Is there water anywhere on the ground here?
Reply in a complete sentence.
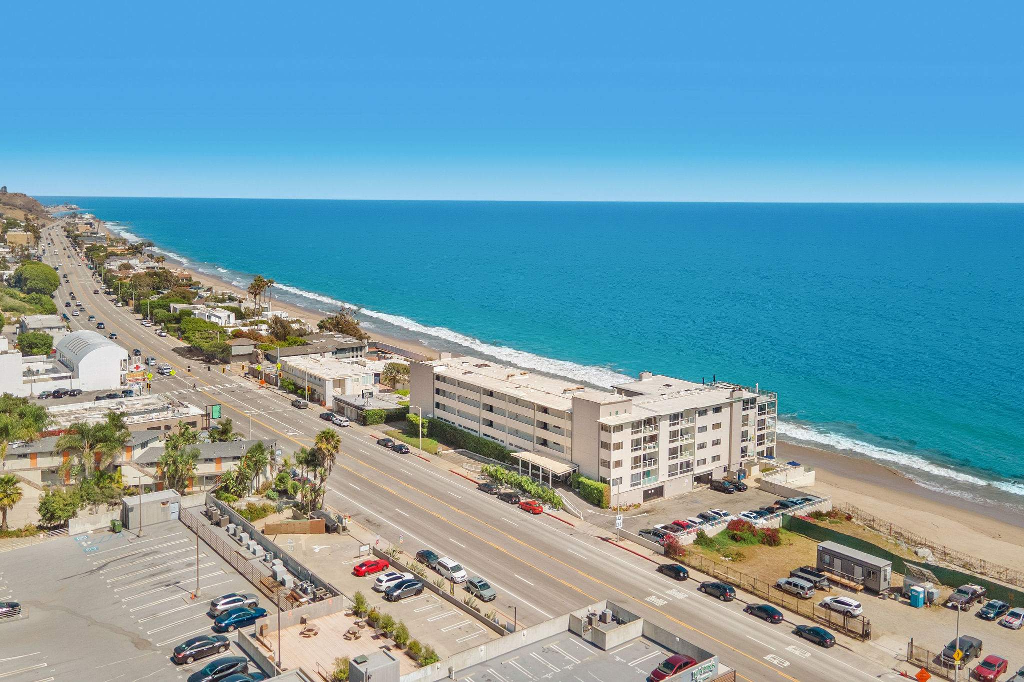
Yes, water can be seen from above here.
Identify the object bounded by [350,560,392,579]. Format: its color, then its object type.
red car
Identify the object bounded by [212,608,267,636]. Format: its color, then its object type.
blue car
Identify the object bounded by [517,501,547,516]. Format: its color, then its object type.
red car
